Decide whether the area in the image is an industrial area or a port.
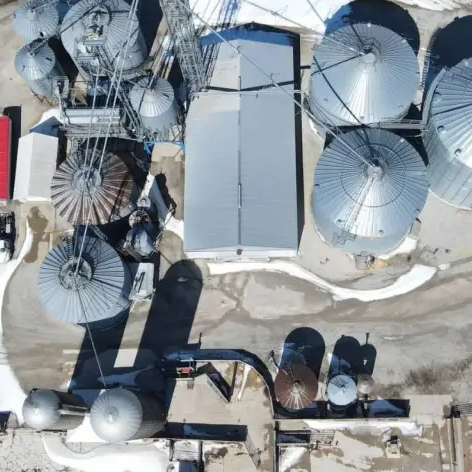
industrial area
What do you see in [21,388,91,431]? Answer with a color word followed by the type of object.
gray silo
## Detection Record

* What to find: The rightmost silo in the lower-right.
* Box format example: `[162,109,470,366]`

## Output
[354,374,375,398]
